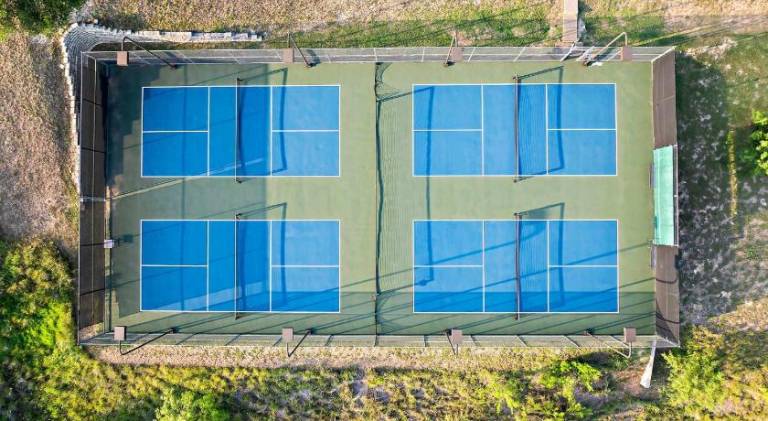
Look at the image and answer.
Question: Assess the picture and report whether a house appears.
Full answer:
No, I can't see a single house in this photo.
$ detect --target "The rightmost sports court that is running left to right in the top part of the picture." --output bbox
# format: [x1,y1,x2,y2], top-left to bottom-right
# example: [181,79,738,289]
[413,83,617,176]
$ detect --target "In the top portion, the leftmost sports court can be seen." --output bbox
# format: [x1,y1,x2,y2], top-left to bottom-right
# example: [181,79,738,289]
[141,86,340,177]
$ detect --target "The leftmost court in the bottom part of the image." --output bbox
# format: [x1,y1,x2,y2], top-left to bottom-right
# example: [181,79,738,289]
[141,220,340,312]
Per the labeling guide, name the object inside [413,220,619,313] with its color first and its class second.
blue sports court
